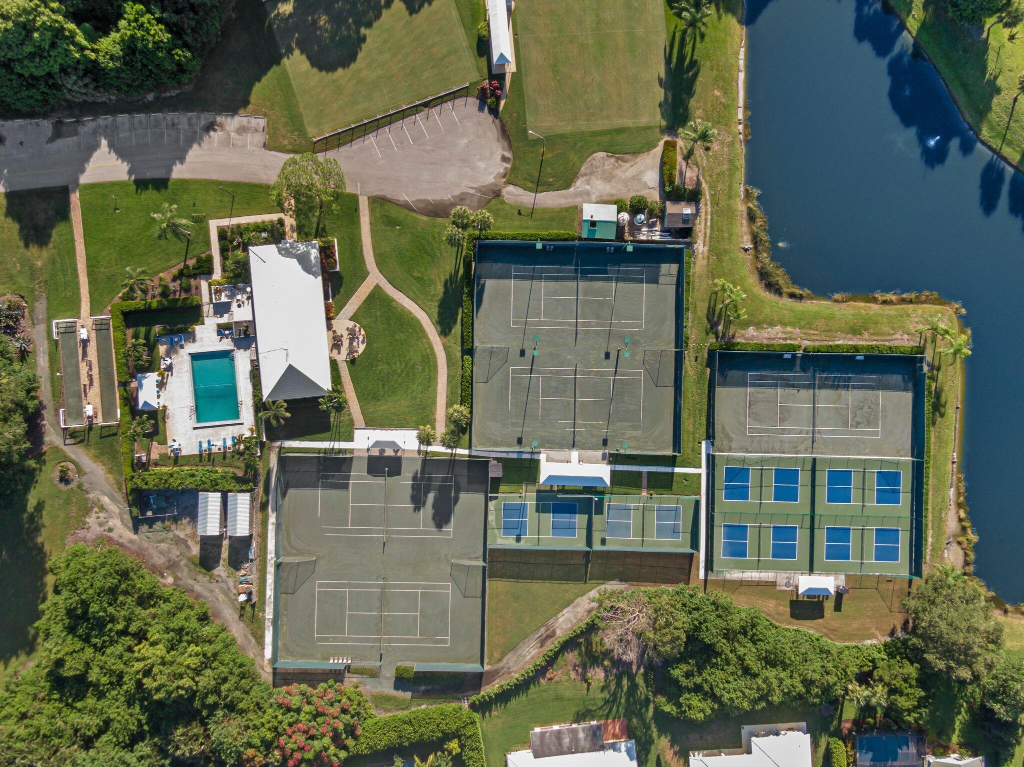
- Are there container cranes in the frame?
No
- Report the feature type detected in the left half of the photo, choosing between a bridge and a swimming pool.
swimming pool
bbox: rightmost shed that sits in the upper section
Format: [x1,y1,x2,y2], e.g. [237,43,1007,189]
[663,202,695,229]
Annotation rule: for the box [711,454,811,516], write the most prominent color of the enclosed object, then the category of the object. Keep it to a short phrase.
green sports court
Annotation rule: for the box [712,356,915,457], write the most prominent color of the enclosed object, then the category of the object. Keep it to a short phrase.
gray tennis court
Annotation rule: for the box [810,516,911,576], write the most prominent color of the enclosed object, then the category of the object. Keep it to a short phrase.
green sports court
